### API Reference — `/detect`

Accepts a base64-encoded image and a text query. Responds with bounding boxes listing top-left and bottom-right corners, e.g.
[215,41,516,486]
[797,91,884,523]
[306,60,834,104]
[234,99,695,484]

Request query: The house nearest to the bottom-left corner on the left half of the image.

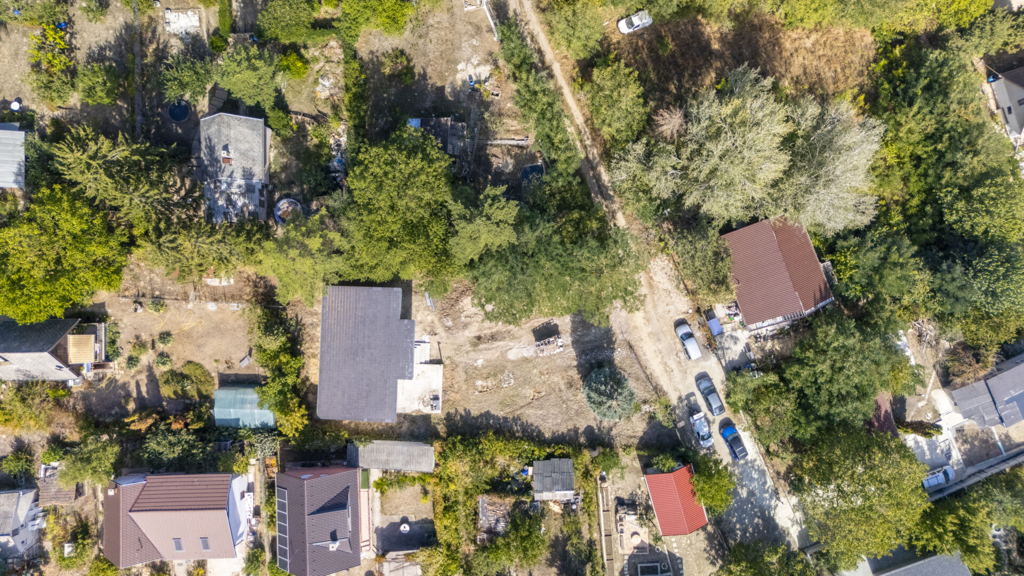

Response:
[0,487,47,558]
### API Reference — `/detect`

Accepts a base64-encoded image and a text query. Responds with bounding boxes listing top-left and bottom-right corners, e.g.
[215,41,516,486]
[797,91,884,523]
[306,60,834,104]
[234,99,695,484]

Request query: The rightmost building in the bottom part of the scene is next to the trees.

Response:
[938,358,1024,430]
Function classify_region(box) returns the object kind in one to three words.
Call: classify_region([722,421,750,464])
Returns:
car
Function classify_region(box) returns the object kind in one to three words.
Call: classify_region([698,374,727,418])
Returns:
car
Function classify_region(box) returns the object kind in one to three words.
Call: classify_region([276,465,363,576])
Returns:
house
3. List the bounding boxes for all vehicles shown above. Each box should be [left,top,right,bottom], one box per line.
[676,322,703,363]
[916,465,956,491]
[722,421,750,464]
[686,410,715,452]
[616,8,656,36]
[698,374,727,418]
